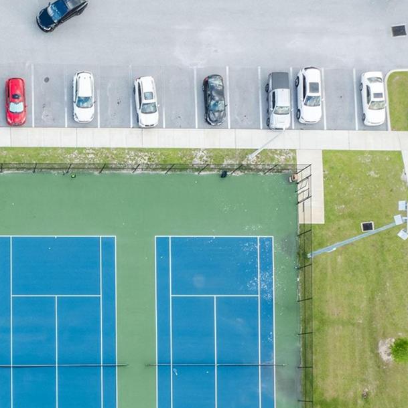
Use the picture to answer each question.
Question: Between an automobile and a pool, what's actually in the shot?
automobile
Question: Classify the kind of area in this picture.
sports ground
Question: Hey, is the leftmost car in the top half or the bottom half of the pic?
top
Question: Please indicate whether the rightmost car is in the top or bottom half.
top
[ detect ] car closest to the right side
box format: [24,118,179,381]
[358,72,387,128]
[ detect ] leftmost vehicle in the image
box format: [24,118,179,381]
[4,77,28,128]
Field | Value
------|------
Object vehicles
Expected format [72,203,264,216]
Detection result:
[294,67,324,124]
[36,0,90,33]
[201,74,228,127]
[4,77,28,128]
[72,69,97,124]
[134,75,160,129]
[358,72,387,128]
[264,71,293,131]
